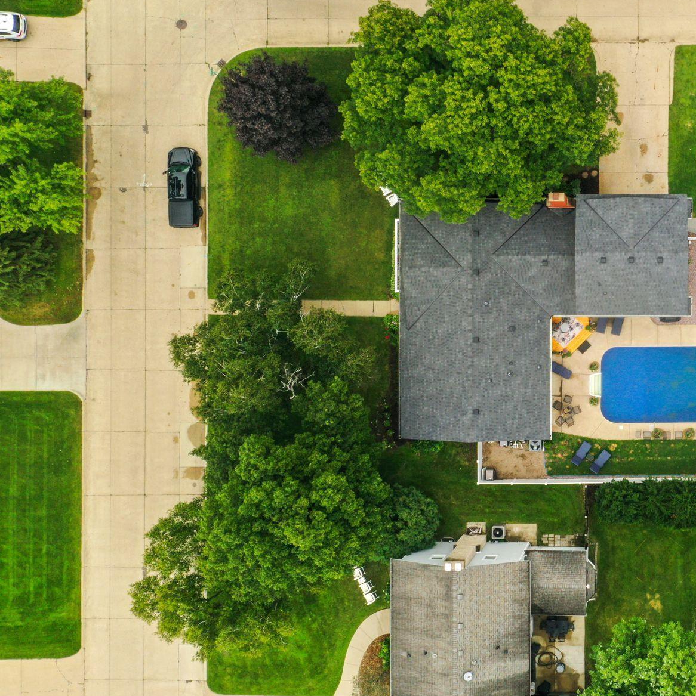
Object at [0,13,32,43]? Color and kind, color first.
white car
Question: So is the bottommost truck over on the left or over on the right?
left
